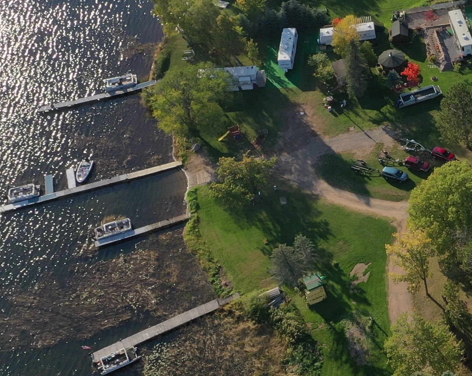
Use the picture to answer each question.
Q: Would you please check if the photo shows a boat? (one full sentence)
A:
Yes, the picture does show a boat.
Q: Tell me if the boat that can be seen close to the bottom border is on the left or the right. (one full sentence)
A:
It is on the left.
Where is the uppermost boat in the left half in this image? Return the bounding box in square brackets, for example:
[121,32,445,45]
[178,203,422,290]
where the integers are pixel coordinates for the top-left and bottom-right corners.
[103,74,139,92]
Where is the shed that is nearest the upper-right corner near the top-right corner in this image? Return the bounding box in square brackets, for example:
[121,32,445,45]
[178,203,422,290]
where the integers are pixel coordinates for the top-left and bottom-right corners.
[390,19,408,47]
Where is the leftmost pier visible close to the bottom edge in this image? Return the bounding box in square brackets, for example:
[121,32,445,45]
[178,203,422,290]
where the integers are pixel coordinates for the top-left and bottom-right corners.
[92,299,227,361]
